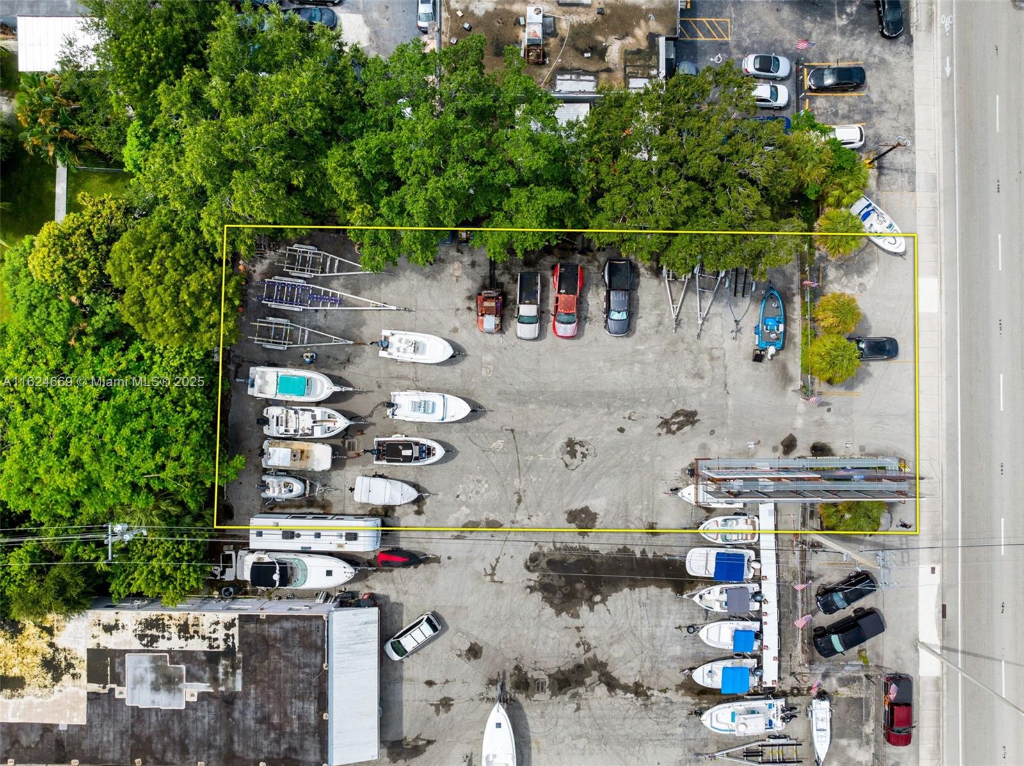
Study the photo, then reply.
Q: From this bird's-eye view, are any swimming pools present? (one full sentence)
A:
No, I can't see a single swimming pool in this photo.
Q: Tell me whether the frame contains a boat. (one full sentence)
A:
Yes, a boat appears in the view.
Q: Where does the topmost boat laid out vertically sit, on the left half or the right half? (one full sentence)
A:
The topmost boat laid out vertically is on the right side of the image.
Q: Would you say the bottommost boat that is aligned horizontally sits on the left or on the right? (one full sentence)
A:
The bottommost boat that is aligned horizontally sits on the right side.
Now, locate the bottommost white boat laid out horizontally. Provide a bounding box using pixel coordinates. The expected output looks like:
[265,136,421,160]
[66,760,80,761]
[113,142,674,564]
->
[701,693,796,740]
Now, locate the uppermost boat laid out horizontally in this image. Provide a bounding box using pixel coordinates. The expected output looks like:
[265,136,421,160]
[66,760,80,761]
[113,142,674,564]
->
[369,329,454,363]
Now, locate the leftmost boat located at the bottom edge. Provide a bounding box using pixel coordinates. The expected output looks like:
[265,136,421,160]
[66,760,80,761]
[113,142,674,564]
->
[481,702,516,766]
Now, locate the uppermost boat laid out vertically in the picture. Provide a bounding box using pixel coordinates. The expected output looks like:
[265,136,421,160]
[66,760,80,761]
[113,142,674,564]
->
[749,287,784,359]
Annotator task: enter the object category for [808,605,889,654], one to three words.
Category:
truck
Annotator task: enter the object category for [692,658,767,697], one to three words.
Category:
boat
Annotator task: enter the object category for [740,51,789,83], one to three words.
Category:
car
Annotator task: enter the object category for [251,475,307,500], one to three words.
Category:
boat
